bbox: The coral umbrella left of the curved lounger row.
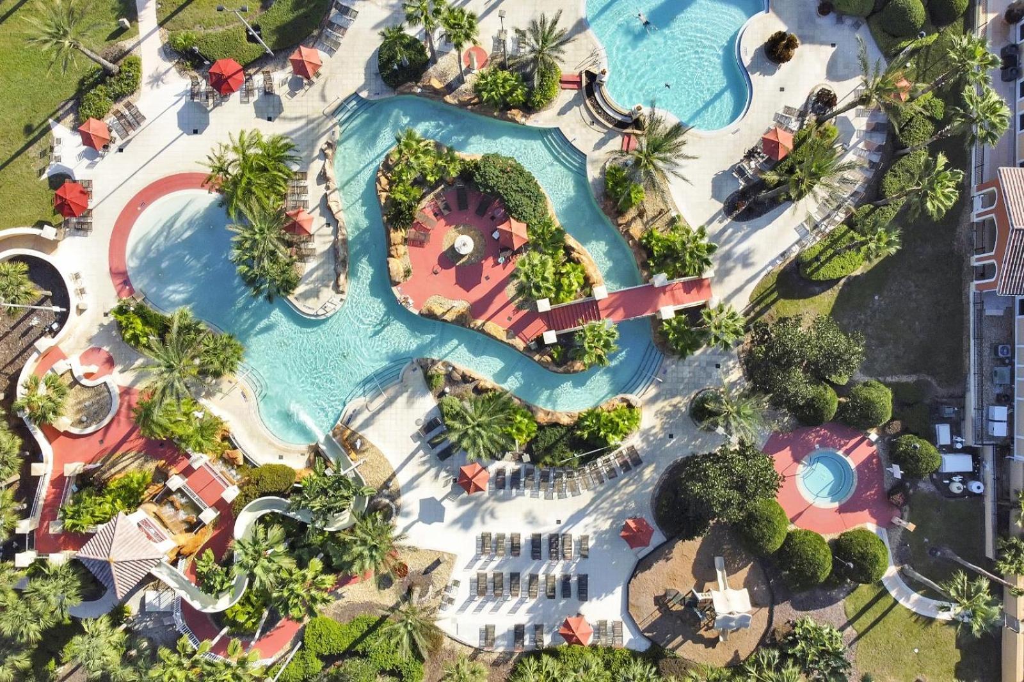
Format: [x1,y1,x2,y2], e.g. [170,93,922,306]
[459,459,489,494]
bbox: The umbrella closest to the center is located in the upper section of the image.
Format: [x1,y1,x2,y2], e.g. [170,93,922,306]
[499,219,528,252]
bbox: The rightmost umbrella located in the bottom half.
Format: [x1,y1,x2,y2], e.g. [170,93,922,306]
[619,514,652,547]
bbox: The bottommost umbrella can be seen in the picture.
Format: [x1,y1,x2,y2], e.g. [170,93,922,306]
[557,611,592,643]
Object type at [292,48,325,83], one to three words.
umbrella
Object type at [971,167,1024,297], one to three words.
building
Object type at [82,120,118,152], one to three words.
umbrella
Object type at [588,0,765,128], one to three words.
swimming pool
